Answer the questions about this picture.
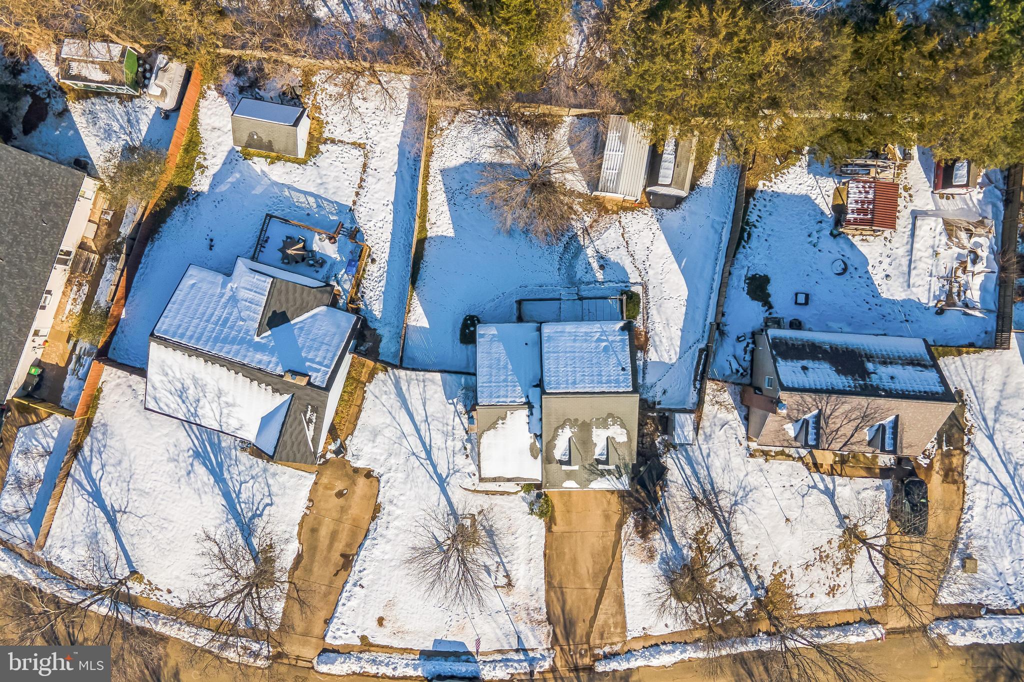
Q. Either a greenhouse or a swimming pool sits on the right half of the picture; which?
greenhouse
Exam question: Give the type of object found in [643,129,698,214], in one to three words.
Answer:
shed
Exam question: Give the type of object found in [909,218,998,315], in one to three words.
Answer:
greenhouse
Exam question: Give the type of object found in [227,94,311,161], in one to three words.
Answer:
shed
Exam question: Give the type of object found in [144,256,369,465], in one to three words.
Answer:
house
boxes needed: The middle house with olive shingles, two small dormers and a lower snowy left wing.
[467,320,639,492]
